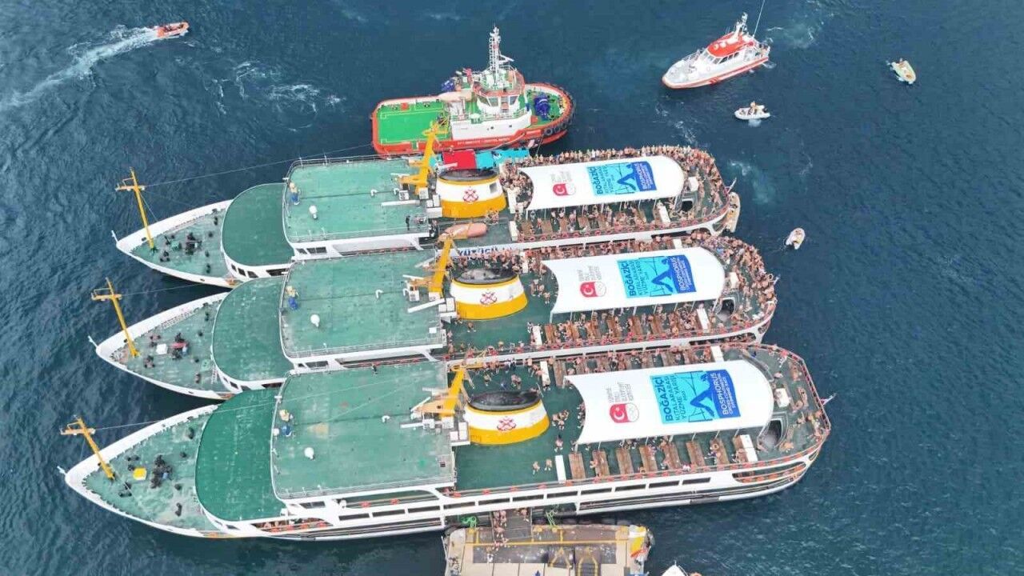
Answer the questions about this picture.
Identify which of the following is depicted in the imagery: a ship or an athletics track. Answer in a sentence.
This aerial view contains a ship.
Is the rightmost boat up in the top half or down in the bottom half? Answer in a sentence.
You can find the rightmost boat in the top half.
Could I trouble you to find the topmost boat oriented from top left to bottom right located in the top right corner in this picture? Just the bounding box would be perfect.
[888,58,919,81]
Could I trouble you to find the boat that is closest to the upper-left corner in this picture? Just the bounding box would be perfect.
[152,24,190,39]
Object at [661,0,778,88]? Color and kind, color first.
white boat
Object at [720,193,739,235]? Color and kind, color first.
white boat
